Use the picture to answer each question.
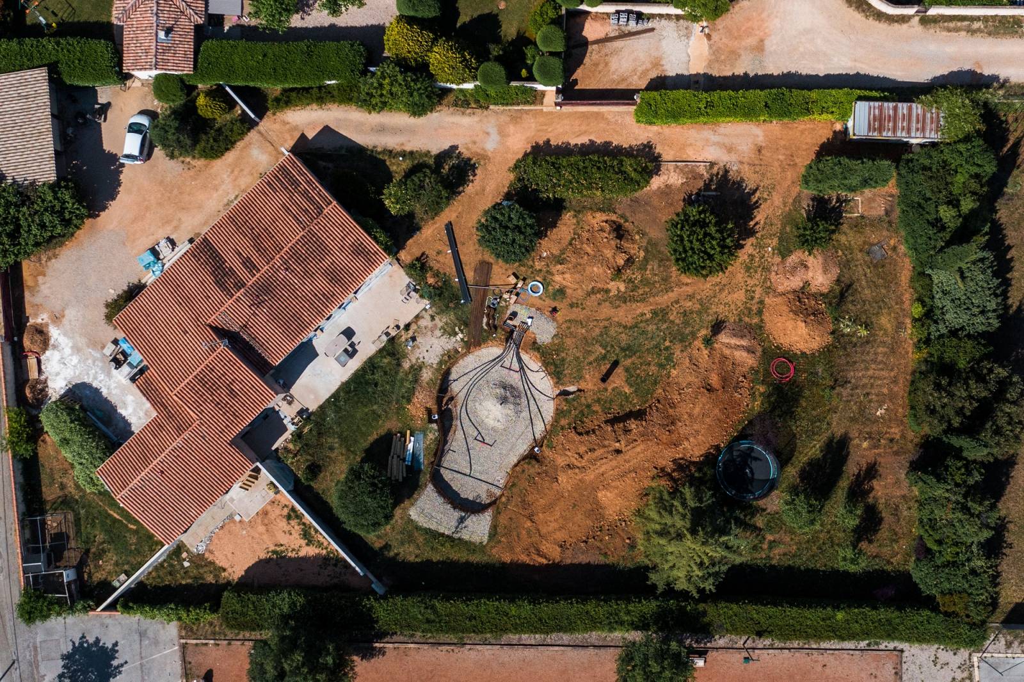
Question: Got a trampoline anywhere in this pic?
Yes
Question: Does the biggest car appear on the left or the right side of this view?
left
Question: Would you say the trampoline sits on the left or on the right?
right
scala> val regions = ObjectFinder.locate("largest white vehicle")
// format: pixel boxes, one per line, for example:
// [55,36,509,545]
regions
[120,113,154,164]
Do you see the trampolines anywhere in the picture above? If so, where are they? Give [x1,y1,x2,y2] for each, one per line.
[717,440,784,503]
